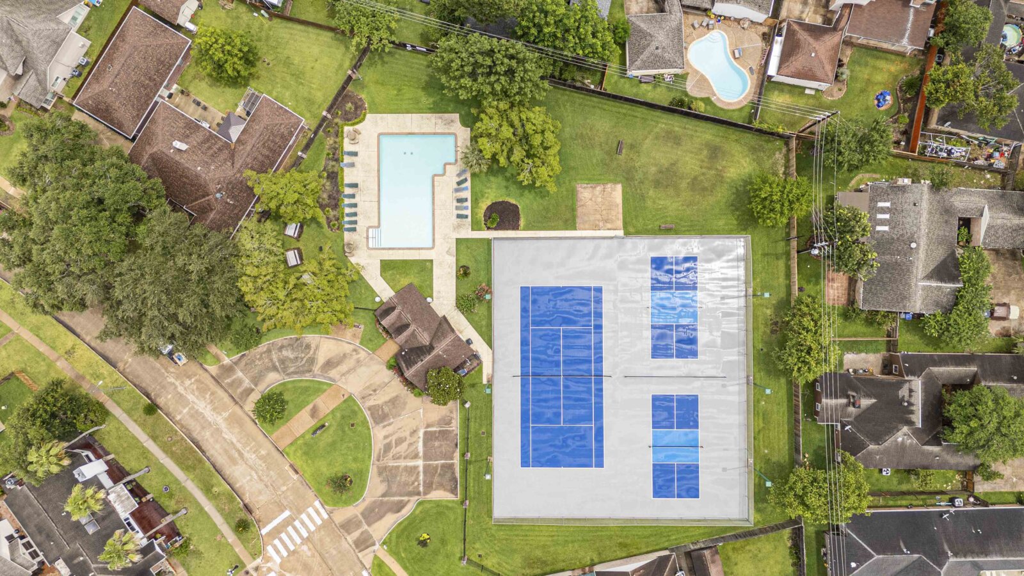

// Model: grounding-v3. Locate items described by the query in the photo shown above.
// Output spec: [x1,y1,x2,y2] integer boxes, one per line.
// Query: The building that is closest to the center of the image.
[375,284,478,391]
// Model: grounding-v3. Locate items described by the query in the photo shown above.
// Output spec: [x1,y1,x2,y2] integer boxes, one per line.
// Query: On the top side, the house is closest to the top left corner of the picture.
[0,0,111,112]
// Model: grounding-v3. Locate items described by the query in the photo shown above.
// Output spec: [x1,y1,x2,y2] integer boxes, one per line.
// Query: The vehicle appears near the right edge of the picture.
[990,302,1020,321]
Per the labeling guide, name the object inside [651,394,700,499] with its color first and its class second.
blue sports court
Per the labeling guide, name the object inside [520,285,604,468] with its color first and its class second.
blue tennis court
